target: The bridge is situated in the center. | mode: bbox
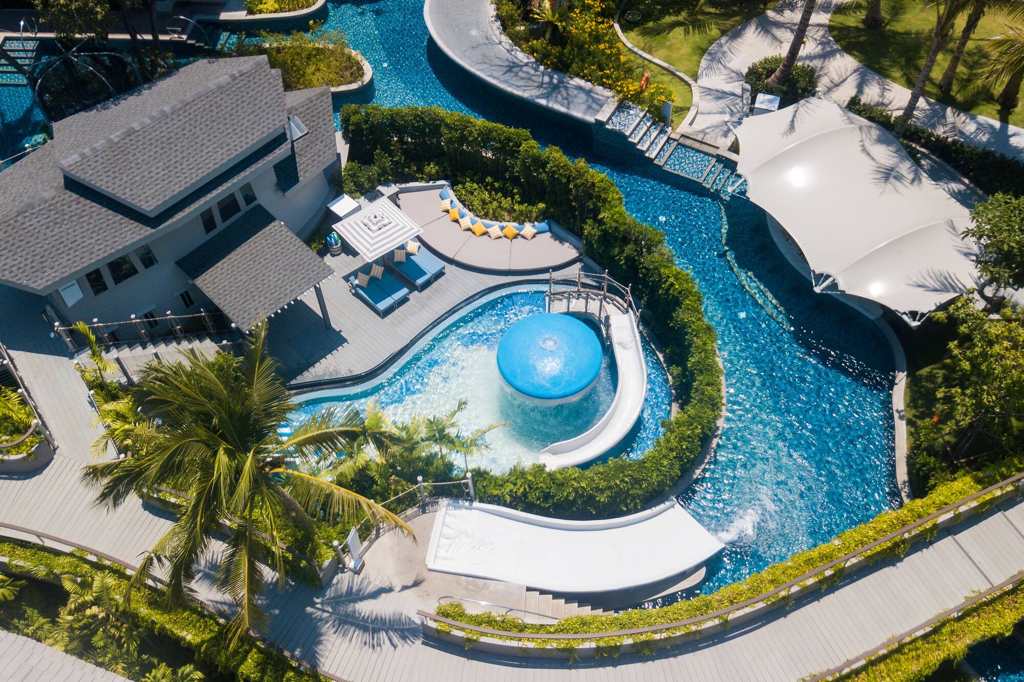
[548,288,631,361]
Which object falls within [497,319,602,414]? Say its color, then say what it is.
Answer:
blue fountain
